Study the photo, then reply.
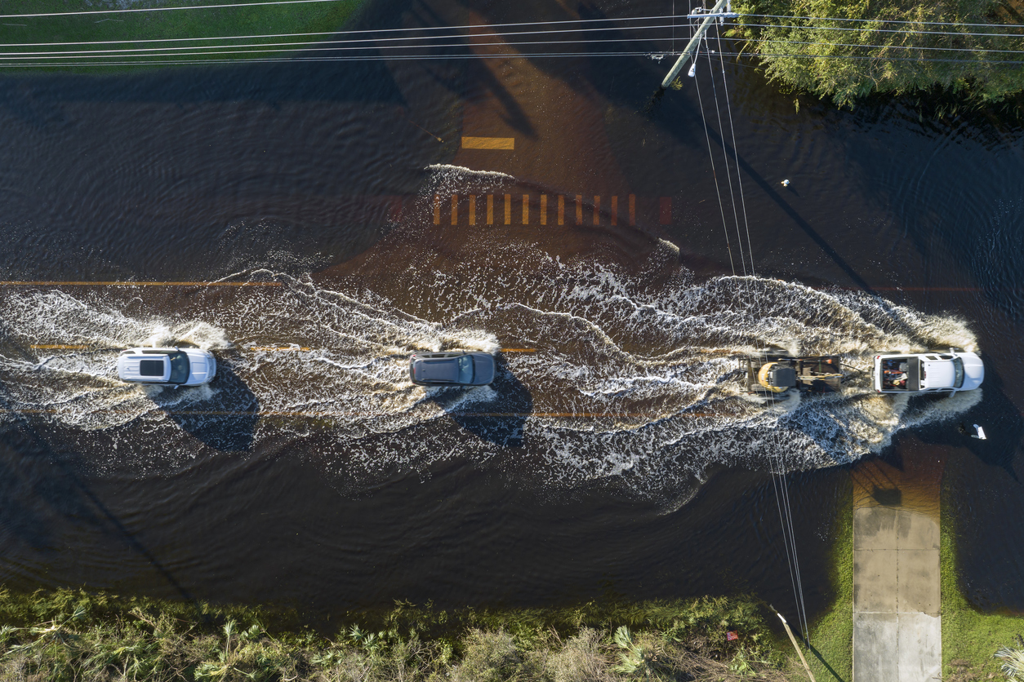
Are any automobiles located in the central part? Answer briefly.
Yes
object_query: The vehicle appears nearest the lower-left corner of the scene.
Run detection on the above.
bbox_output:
[119,345,218,391]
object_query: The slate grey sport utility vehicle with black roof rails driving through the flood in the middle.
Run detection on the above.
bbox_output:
[409,347,496,391]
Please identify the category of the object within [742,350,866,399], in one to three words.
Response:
trailer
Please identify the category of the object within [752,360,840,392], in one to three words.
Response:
work vehicle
